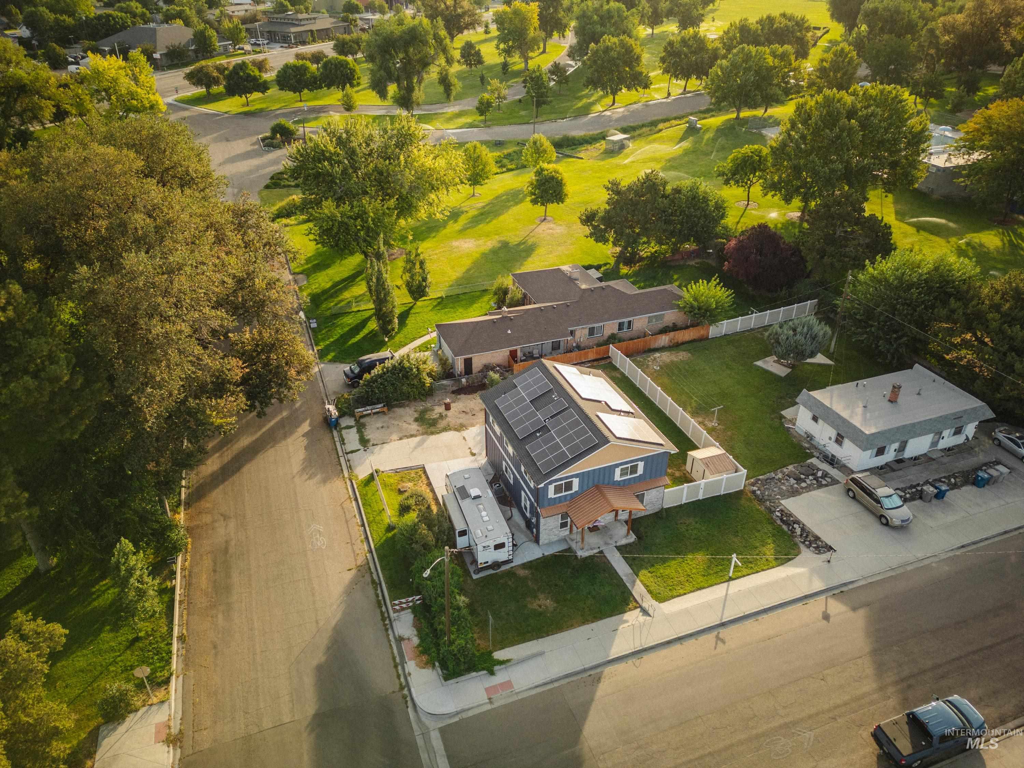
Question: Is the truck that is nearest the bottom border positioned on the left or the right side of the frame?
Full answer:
The truck that is nearest the bottom border sits on the right side.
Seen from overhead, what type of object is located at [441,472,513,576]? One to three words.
vehicle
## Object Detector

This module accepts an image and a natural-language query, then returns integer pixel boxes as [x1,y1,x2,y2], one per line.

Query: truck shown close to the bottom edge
[871,696,985,765]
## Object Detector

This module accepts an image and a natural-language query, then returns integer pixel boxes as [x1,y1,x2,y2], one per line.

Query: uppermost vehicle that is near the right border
[991,424,1024,456]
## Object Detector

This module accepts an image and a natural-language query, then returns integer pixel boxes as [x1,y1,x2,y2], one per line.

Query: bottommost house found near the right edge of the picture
[795,364,997,474]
